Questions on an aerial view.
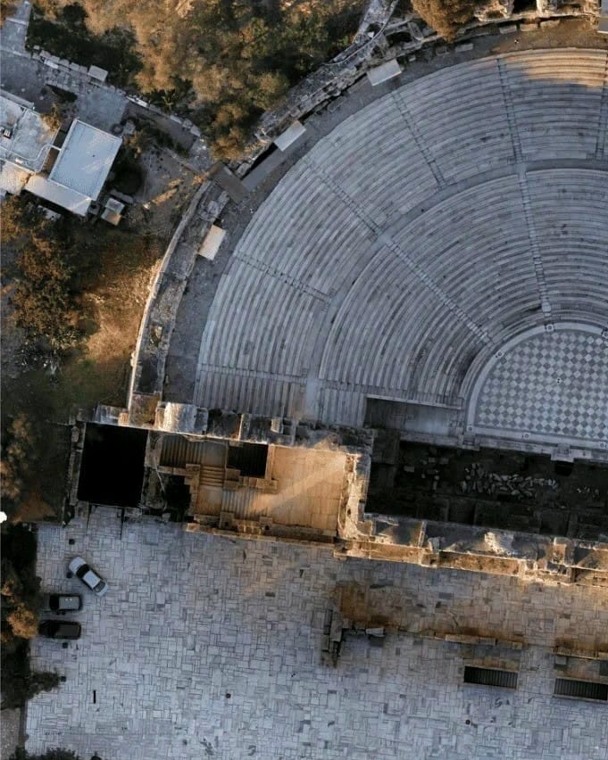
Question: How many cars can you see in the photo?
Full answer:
The picture shows 3 cars.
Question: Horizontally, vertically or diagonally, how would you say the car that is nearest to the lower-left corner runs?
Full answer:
In this picture, the car that is nearest to the lower-left corner lies horizontally.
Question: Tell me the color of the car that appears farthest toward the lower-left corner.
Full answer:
In this view, the car that appears farthest toward the lower-left corner is black.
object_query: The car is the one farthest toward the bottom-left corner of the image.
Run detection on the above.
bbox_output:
[38,619,84,642]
